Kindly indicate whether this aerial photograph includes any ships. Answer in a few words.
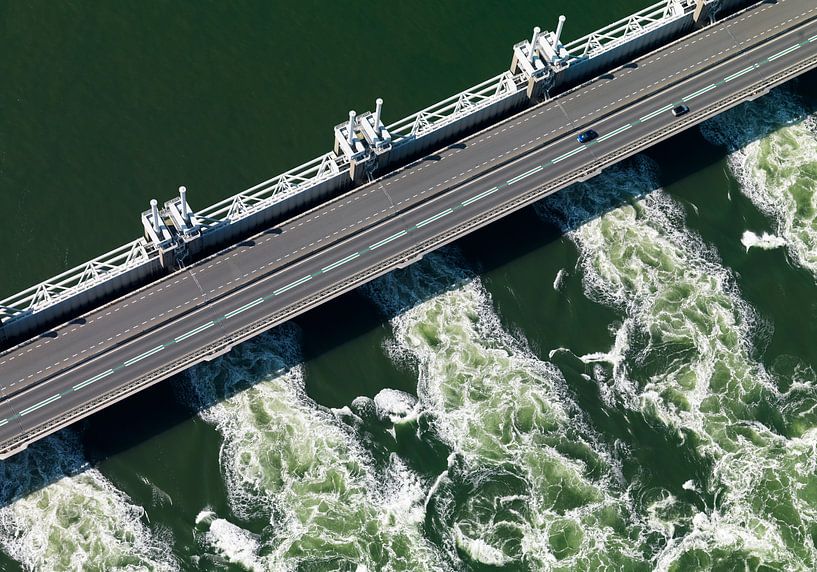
No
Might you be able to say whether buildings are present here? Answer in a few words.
No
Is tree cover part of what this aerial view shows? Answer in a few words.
No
